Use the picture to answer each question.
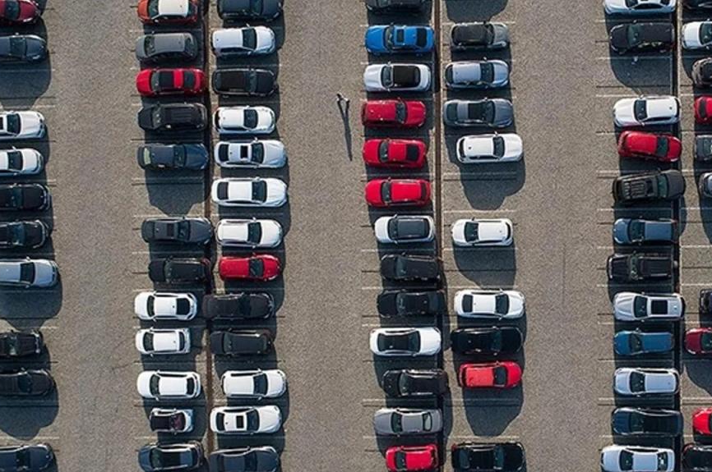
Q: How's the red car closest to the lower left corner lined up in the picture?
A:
horizontally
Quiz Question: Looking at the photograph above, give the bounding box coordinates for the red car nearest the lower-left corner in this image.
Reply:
[221,251,282,283]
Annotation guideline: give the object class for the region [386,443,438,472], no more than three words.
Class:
car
